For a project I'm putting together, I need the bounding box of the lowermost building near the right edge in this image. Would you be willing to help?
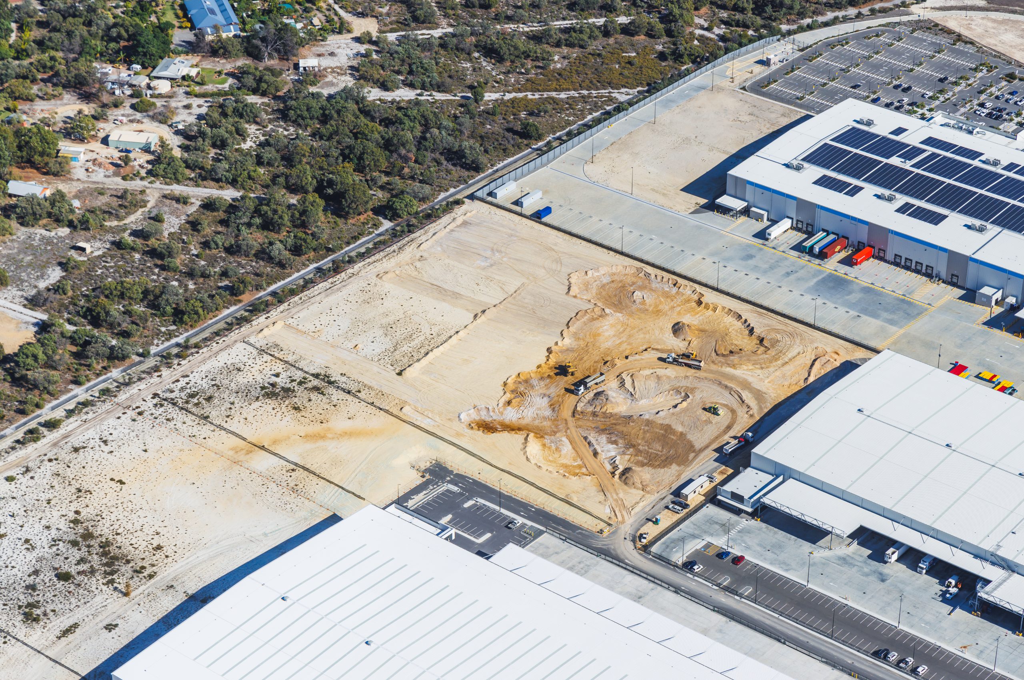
[750,349,1024,574]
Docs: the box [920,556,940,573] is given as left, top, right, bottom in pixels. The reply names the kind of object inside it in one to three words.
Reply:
vehicle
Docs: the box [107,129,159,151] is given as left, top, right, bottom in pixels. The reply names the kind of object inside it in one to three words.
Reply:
shed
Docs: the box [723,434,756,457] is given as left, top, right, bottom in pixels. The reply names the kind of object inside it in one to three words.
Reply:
truck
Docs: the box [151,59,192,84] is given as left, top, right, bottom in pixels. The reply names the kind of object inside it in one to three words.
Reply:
house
